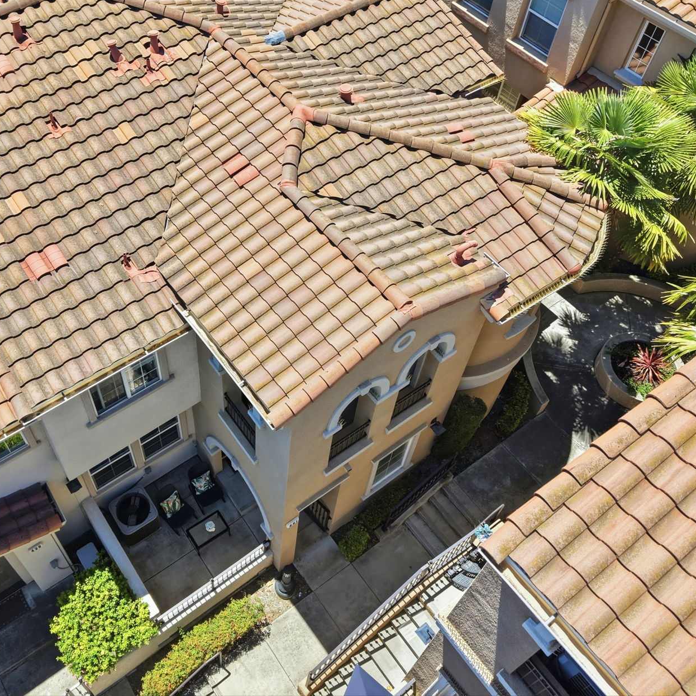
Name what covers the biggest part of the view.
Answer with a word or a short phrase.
buildings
